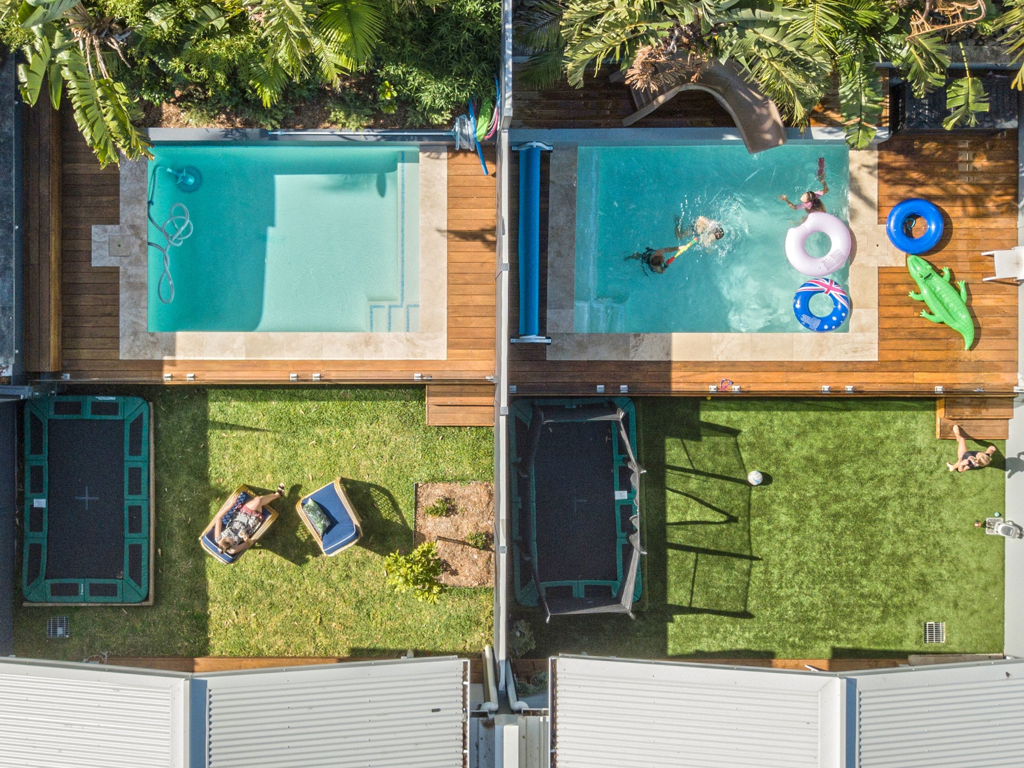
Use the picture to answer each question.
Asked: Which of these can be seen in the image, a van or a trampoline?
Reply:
trampoline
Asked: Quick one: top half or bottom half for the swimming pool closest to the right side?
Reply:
top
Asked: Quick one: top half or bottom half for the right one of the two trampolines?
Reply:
bottom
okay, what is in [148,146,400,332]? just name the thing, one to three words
swimming pool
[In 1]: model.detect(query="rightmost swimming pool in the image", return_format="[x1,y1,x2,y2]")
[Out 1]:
[583,146,848,332]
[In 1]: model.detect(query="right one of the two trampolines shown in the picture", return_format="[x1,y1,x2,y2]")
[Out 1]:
[513,397,649,624]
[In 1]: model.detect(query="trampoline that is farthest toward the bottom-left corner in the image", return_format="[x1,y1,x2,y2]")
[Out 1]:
[21,396,159,609]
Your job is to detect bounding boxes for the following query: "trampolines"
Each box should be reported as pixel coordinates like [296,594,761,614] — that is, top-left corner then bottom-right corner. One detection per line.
[21,396,159,609]
[513,397,649,624]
